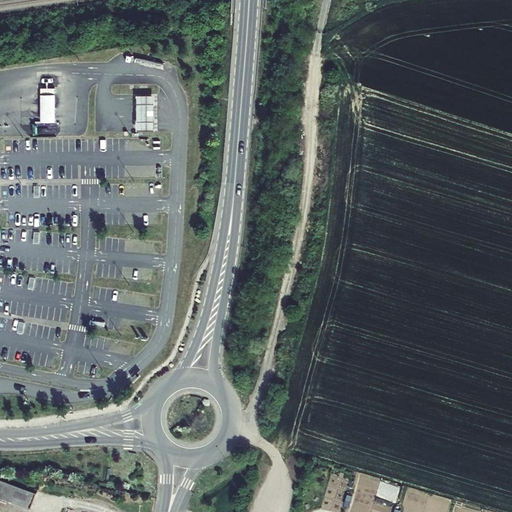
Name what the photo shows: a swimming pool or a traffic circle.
traffic circle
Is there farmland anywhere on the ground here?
Yes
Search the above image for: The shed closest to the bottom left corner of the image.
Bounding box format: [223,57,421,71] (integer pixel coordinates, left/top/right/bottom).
[0,482,34,510]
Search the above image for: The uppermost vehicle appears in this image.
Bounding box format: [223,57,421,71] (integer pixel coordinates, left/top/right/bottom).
[124,56,162,70]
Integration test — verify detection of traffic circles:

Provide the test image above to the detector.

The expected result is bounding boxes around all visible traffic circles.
[143,370,240,466]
